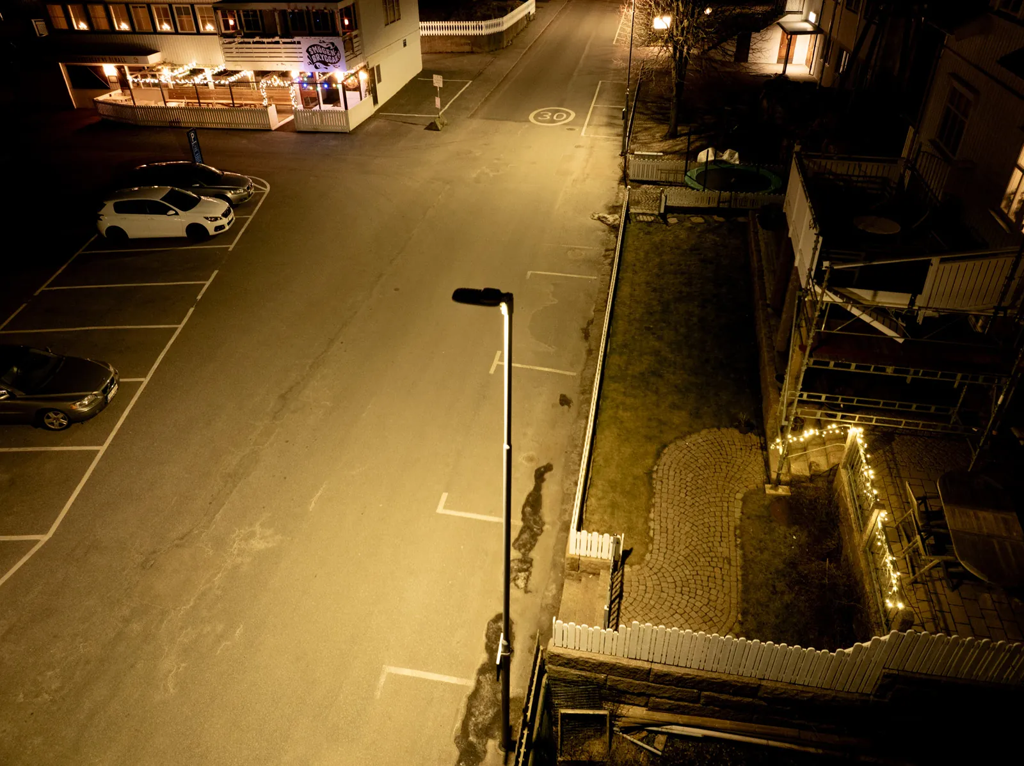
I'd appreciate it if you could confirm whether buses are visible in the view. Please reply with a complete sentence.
No, I find no bus anywhere in the image.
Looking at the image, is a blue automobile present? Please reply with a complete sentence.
No, the scene contains no blue automobile.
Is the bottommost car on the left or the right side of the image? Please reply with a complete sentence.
You can find the bottommost car on the left side of the picture.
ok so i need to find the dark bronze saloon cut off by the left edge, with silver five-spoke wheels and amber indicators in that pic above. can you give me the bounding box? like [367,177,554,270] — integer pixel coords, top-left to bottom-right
[0,341,119,431]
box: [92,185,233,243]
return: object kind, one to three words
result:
car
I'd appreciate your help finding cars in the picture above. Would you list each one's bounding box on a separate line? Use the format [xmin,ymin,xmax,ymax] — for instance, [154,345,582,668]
[120,154,259,205]
[92,185,233,243]
[0,341,119,431]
